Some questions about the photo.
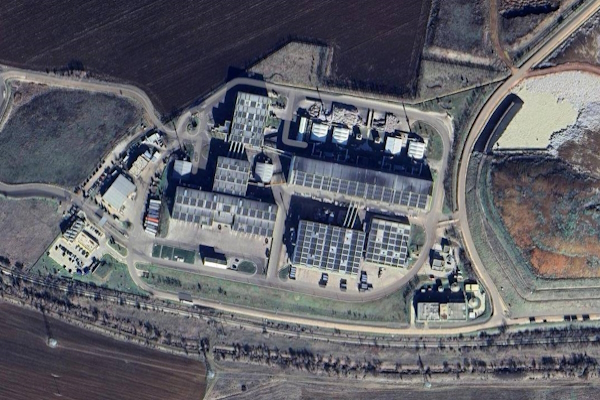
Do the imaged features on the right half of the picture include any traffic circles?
No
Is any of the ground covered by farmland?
Yes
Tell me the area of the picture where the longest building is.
center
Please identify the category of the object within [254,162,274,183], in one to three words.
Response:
shed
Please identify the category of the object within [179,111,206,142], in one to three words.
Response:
roundabout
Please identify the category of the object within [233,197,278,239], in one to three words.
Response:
building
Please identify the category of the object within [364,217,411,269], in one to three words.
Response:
building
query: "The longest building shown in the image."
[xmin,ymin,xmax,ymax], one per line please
[287,156,434,212]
